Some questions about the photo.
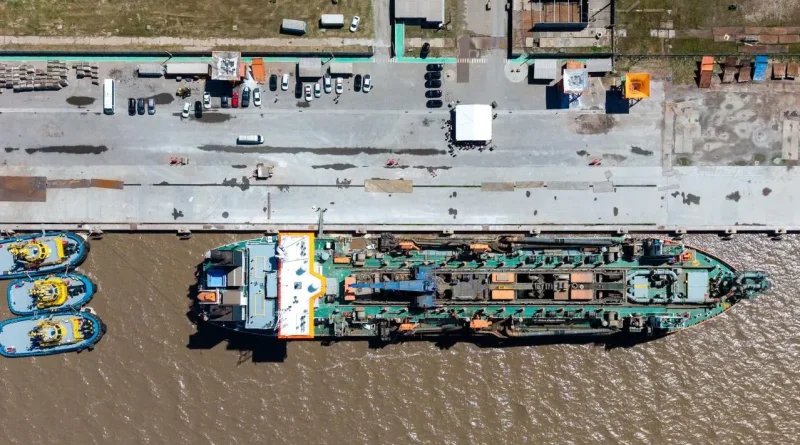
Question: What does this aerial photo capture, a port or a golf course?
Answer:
port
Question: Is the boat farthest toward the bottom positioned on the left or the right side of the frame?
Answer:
left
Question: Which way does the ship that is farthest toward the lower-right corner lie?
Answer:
from left to right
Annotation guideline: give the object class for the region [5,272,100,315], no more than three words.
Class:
boat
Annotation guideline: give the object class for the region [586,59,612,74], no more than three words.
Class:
shed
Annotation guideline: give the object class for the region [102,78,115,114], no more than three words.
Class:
vehicle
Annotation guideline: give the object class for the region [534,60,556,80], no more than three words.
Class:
shed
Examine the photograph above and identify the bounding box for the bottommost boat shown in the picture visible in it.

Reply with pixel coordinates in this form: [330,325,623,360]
[0,312,108,355]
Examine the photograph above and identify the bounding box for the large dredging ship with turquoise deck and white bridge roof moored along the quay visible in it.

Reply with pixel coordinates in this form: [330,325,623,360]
[198,232,771,340]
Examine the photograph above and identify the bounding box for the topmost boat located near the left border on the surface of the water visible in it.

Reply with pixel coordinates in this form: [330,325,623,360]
[0,233,94,277]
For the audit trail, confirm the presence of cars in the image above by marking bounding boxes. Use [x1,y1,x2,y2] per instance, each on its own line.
[363,75,370,92]
[269,75,277,91]
[242,87,250,107]
[336,77,343,94]
[183,102,191,118]
[138,98,145,114]
[128,98,137,115]
[314,84,320,97]
[204,93,211,108]
[426,64,441,71]
[426,81,441,87]
[324,75,331,91]
[426,90,441,98]
[148,98,155,114]
[253,89,261,105]
[194,101,202,118]
[424,73,441,80]
[420,42,429,59]
[350,16,359,31]
[281,74,288,90]
[221,95,228,109]
[295,82,302,98]
[305,85,312,101]
[354,75,362,91]
[426,100,441,107]
[231,94,238,108]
